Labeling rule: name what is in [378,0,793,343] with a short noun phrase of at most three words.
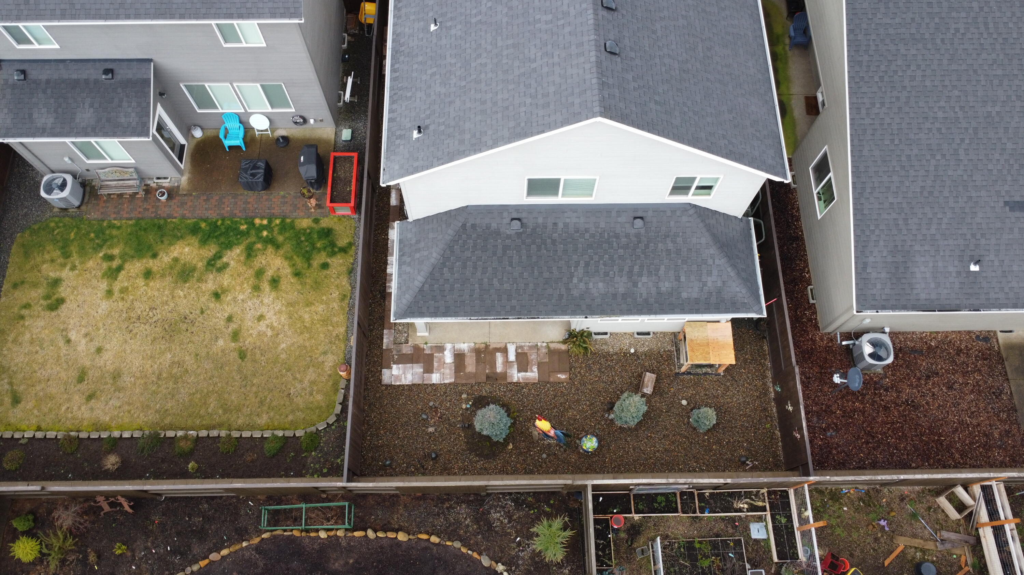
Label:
house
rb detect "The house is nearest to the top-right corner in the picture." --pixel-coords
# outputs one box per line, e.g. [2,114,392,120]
[787,0,1024,345]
